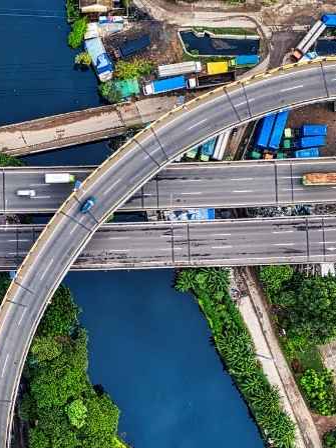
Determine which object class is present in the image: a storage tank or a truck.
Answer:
truck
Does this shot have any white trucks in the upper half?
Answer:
Yes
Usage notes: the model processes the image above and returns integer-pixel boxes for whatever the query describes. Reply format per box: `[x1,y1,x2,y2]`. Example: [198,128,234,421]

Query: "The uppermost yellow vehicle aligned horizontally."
[195,62,230,78]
